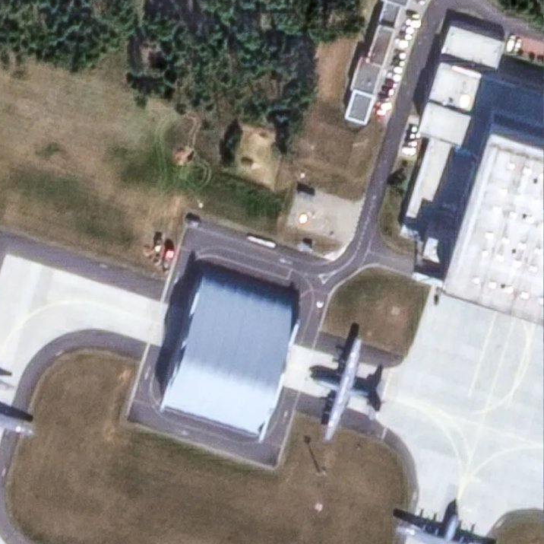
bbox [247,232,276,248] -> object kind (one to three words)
vehicle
